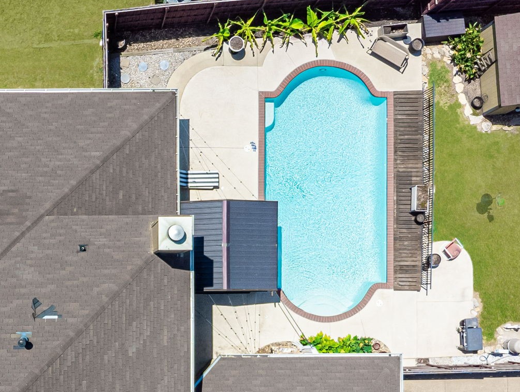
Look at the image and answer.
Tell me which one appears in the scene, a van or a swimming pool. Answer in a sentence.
The image shows a swimming pool.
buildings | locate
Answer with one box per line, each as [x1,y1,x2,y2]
[478,12,520,114]
[0,88,406,392]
